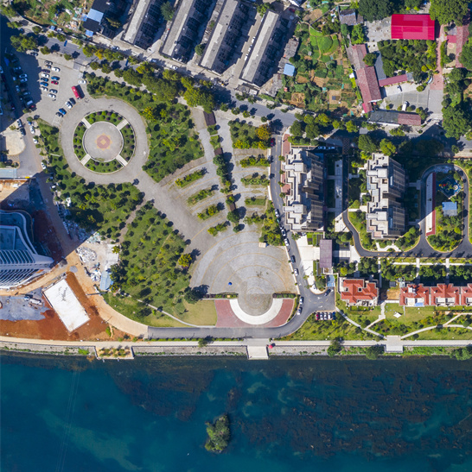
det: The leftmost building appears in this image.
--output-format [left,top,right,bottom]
[0,211,58,290]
